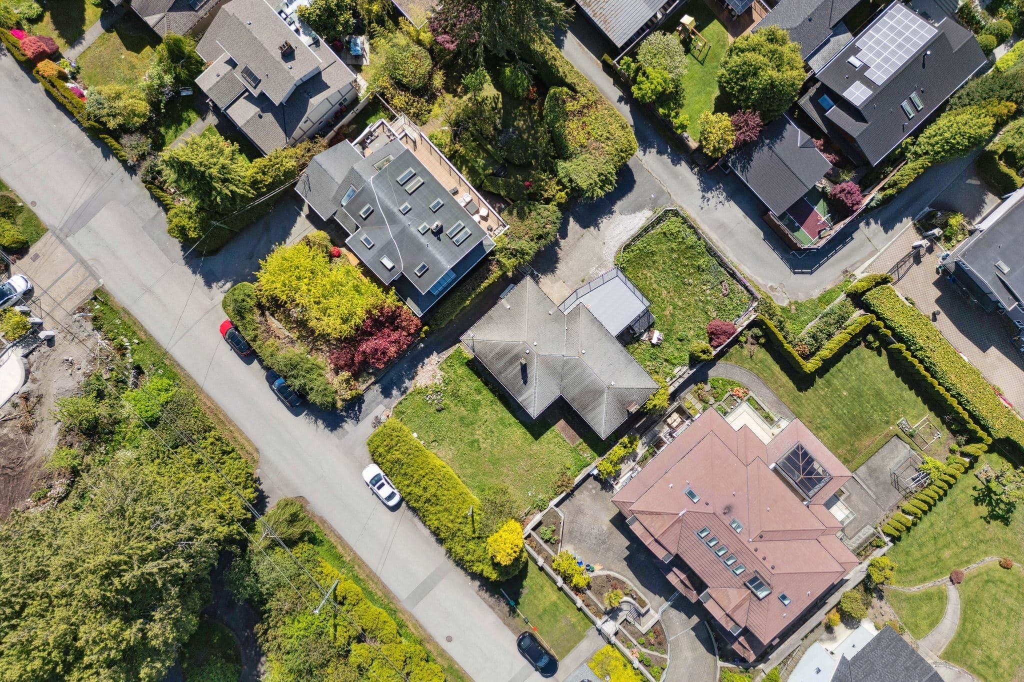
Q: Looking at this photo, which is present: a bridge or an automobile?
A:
automobile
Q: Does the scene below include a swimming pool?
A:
No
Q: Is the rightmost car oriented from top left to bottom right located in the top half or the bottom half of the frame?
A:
bottom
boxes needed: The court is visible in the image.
[756,185,836,245]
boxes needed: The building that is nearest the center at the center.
[460,267,659,440]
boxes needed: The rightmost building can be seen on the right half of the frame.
[933,181,1024,333]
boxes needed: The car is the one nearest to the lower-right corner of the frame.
[518,629,556,681]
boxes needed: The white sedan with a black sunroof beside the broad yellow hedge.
[364,462,398,512]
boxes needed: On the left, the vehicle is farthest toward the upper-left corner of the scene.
[0,277,34,313]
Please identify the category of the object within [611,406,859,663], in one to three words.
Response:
house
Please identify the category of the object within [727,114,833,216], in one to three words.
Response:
building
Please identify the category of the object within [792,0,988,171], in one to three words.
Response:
house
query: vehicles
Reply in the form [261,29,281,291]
[364,462,398,512]
[263,367,303,414]
[518,629,556,681]
[221,317,254,360]
[0,277,34,313]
